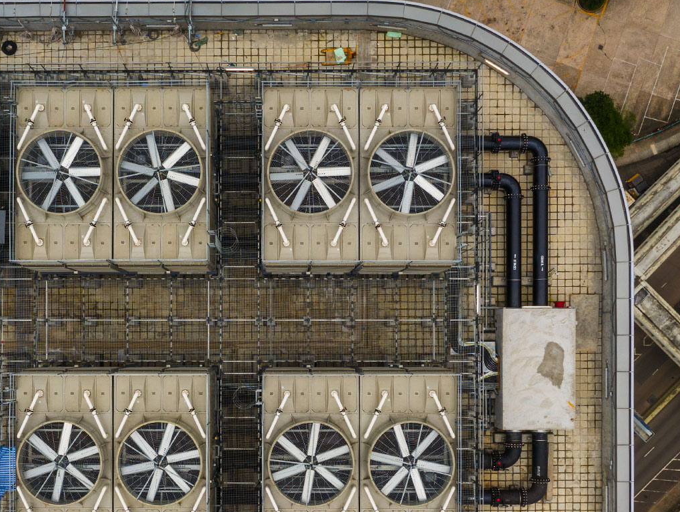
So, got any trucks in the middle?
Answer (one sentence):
No, there is no truck in the middle.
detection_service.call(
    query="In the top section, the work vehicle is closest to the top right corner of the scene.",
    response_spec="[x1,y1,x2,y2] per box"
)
[619,166,650,194]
